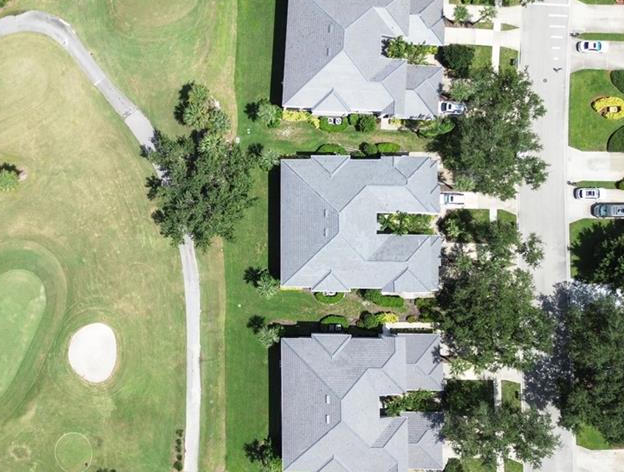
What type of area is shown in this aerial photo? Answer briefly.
golf course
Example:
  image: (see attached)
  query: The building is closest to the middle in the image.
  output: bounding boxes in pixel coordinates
[279,155,439,293]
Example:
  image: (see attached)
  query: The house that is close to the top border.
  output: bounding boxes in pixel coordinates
[283,0,445,122]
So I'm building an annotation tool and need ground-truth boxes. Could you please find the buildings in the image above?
[283,0,445,122]
[280,331,443,472]
[279,155,439,293]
